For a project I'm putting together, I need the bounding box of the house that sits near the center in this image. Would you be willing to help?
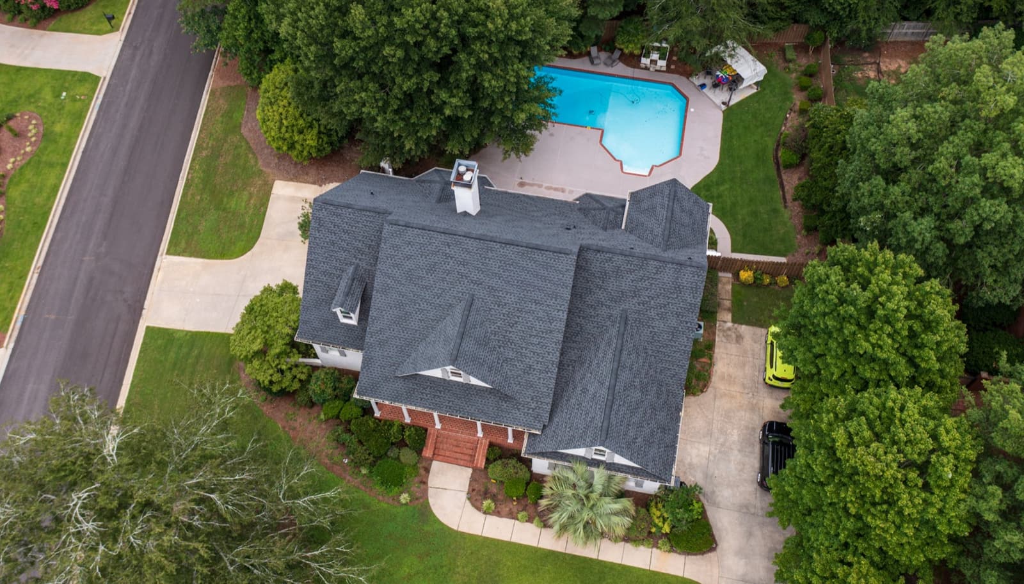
[299,164,713,497]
